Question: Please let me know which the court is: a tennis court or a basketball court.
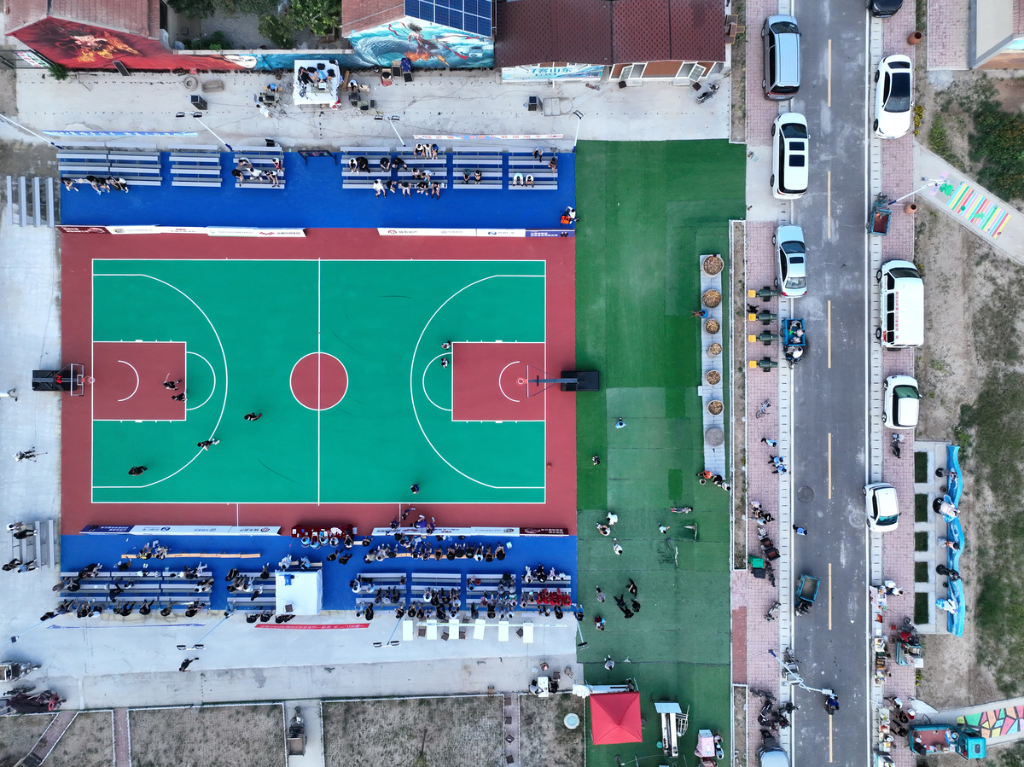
basketball court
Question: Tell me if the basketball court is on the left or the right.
left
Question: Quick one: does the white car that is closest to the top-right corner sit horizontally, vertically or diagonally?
vertically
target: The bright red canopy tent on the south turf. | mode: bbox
[587,679,642,744]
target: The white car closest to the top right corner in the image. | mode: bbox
[872,54,916,140]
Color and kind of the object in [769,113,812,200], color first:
white car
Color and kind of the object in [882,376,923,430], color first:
white car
